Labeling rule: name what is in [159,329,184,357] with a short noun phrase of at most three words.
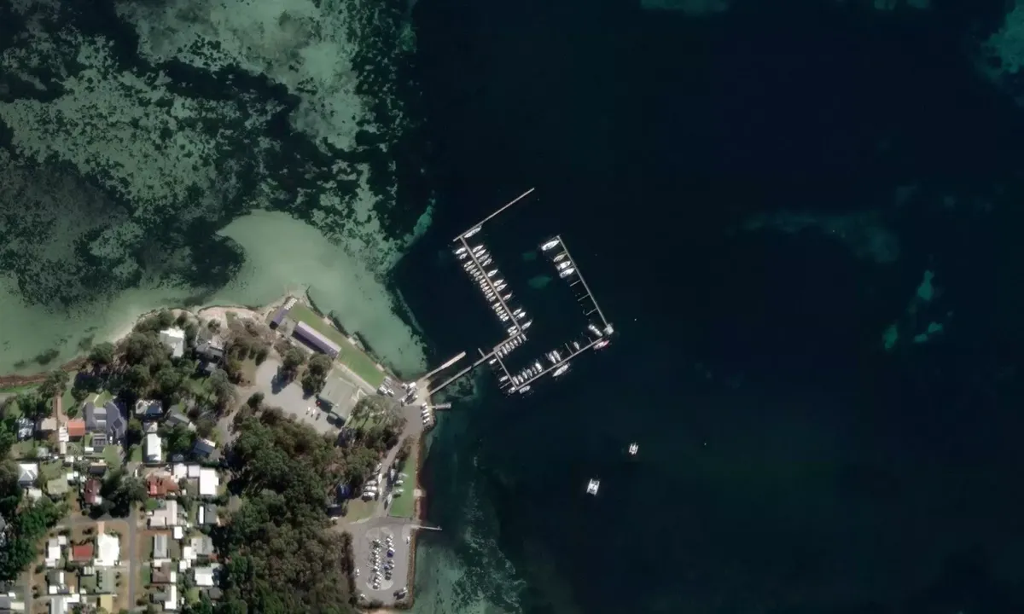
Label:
house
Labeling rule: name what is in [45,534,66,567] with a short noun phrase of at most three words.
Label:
house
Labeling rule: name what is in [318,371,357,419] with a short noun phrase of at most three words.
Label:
building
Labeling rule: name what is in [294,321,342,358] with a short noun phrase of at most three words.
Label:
shed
